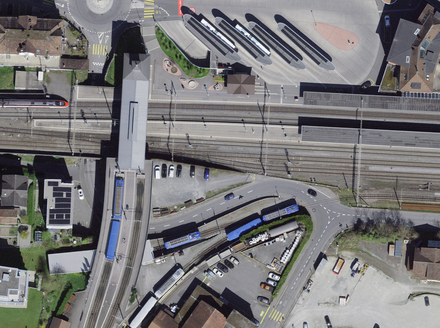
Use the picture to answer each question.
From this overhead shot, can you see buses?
Yes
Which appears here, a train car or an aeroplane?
train car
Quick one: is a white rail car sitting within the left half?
Yes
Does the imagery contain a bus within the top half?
Yes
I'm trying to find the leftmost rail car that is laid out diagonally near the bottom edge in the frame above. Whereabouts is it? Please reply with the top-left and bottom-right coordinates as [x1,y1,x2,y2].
[128,298,157,328]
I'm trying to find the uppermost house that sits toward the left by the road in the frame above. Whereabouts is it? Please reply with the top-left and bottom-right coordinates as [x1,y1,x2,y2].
[0,16,64,56]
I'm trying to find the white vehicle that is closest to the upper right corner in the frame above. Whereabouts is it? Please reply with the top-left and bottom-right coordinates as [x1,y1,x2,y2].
[235,22,272,55]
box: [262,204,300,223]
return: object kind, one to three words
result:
rail car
